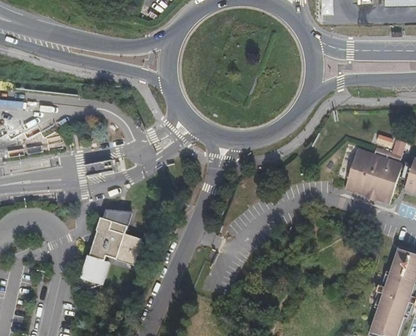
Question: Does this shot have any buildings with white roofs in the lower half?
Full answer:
Yes, you'll find a building with a white roof in the lower half.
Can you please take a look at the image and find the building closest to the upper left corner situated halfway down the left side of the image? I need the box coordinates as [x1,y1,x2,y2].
[86,158,114,176]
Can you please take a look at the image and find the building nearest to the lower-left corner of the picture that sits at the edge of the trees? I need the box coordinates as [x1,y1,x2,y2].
[82,256,110,286]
